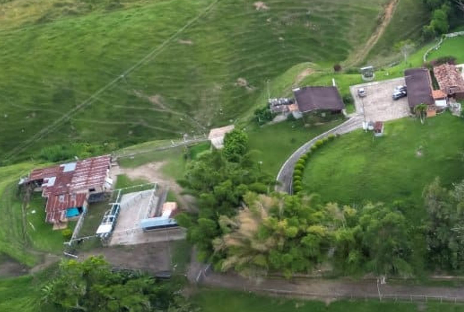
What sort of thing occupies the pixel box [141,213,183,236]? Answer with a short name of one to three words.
shed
